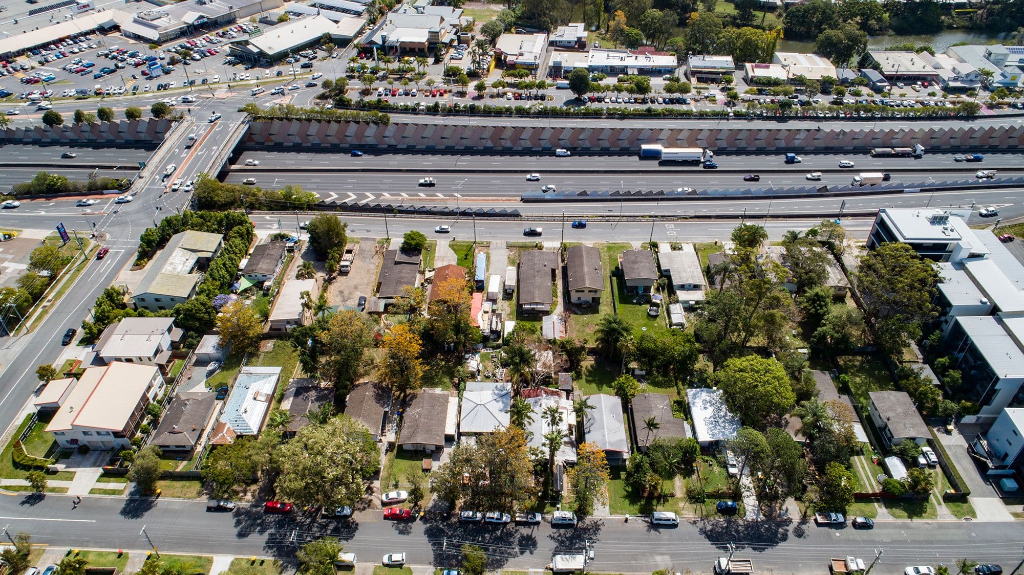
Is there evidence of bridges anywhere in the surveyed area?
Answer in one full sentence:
Yes, a bridge can be made out from above.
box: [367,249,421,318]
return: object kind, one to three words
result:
house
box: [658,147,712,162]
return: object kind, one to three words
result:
vehicle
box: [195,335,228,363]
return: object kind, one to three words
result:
shed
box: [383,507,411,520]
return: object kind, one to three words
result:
vehicle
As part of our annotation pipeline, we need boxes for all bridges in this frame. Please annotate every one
[129,116,249,196]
